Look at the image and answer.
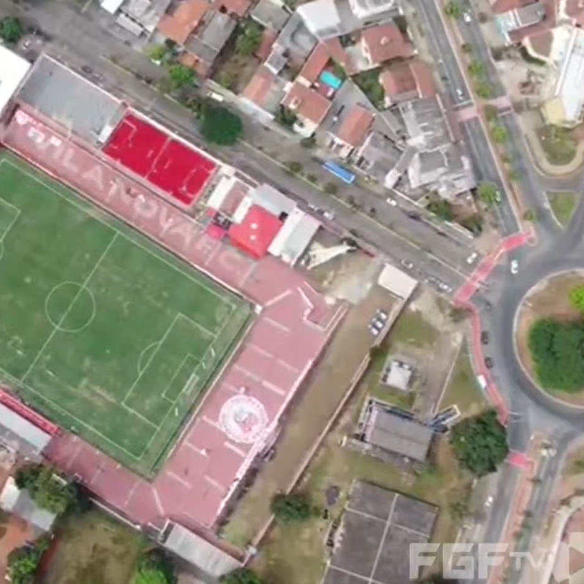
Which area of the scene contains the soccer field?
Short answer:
left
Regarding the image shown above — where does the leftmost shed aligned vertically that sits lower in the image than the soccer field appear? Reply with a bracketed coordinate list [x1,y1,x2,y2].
[0,476,19,511]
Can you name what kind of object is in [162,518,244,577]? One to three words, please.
building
